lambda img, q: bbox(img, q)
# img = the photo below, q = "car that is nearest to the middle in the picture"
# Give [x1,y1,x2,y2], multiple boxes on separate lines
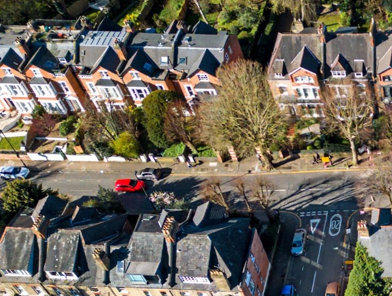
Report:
[132,168,168,183]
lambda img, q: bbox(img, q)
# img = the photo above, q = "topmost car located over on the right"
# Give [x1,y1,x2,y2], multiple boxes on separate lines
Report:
[287,229,310,257]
